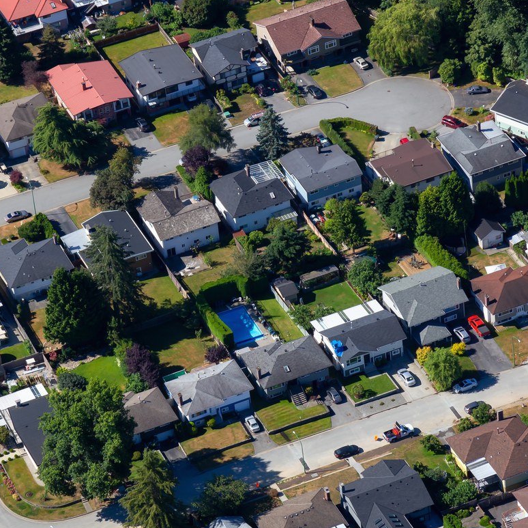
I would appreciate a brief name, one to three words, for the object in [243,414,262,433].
car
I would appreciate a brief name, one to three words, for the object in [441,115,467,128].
vehicle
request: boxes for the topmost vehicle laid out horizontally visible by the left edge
[3,210,30,224]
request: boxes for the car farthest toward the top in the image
[352,55,369,70]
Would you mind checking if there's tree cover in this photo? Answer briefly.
Yes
